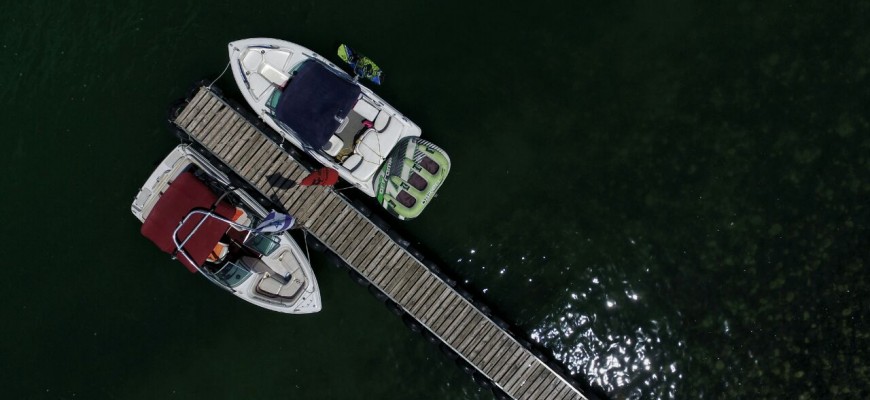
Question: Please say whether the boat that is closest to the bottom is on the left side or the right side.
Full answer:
You can find the boat that is closest to the bottom on the left side of the picture.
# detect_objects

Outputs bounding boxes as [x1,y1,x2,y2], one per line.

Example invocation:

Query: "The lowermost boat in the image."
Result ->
[131,140,323,314]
